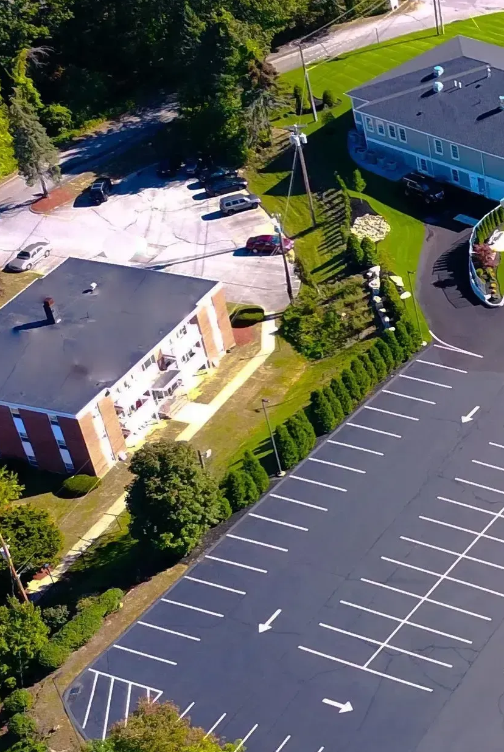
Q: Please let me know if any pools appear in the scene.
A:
No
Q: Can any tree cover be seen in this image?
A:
Yes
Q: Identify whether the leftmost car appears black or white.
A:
white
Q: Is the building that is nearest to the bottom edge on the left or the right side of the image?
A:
left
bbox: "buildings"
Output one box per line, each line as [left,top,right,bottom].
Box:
[346,34,504,199]
[0,258,235,477]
